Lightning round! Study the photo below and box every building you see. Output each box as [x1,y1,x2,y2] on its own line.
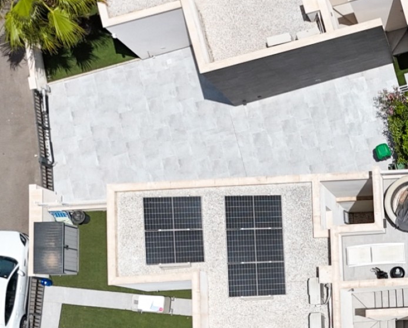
[107,166,408,328]
[33,222,83,276]
[97,0,408,105]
